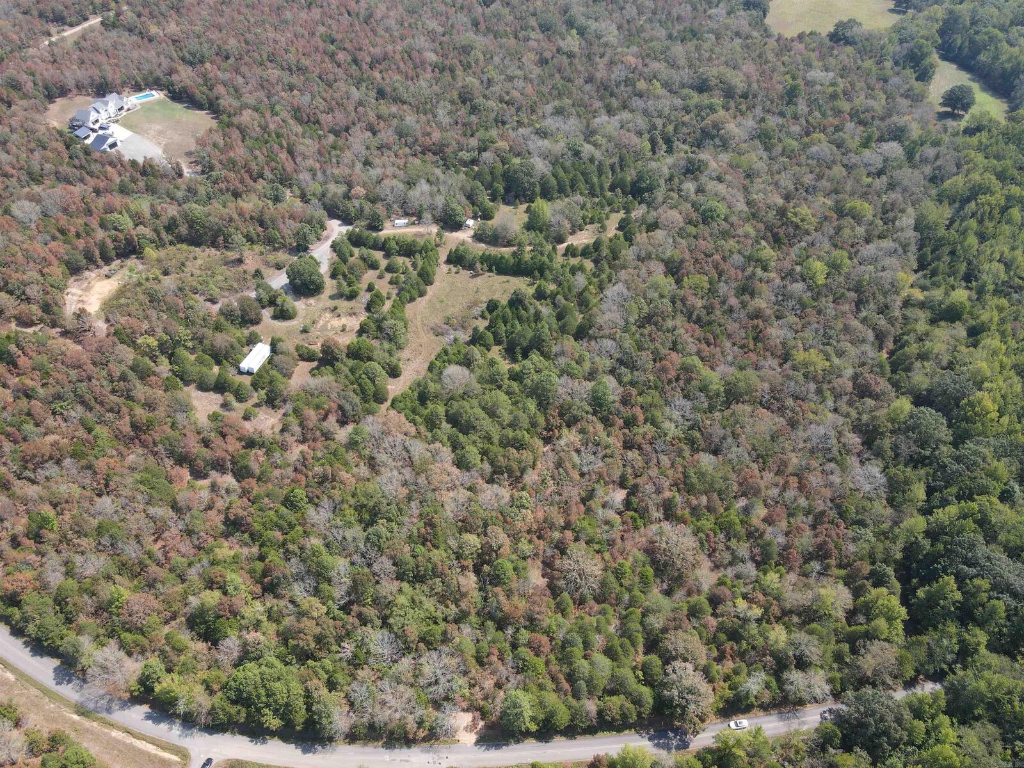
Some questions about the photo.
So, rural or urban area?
rural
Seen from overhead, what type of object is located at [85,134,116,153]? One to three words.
building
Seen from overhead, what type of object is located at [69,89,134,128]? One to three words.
house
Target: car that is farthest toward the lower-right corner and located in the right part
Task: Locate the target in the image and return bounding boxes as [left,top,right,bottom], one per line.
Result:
[729,719,750,731]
